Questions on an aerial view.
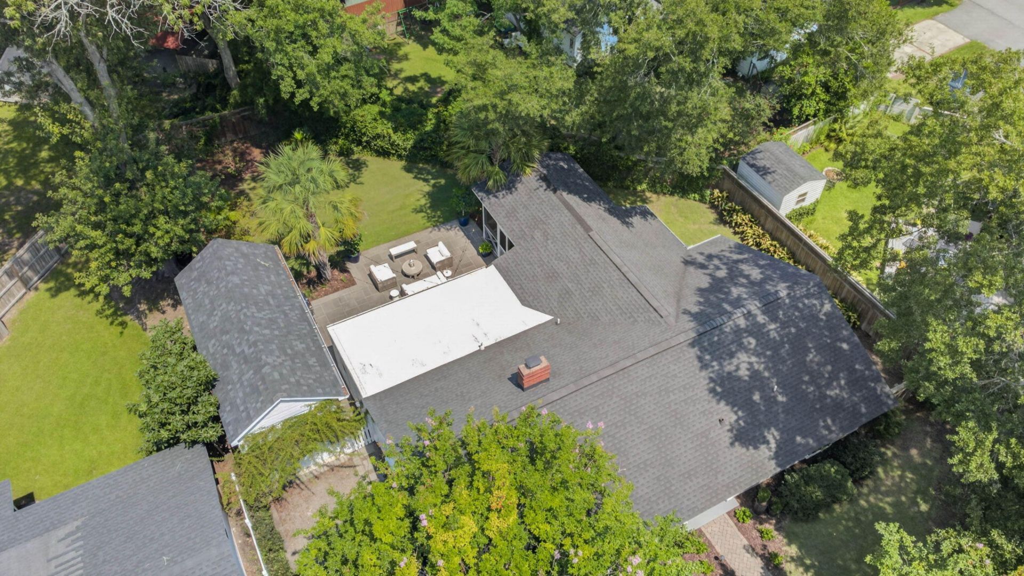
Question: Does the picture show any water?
No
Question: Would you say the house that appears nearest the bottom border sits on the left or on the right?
left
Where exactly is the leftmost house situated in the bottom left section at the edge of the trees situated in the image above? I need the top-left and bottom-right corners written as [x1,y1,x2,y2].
[0,445,242,576]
